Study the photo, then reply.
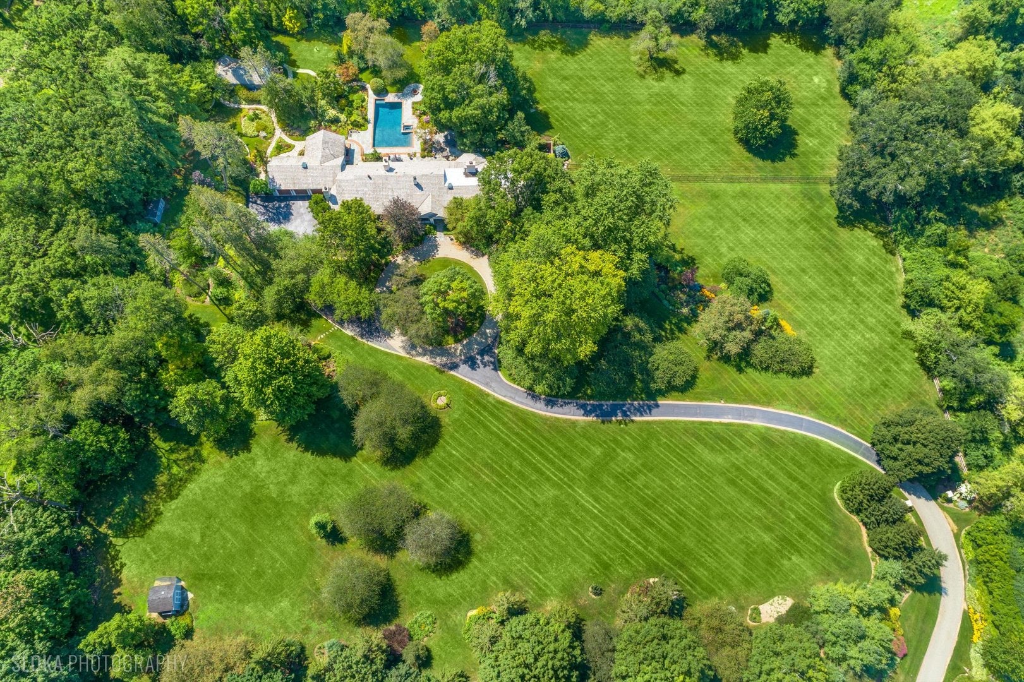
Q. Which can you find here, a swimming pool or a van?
swimming pool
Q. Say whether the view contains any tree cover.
Yes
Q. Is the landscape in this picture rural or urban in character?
rural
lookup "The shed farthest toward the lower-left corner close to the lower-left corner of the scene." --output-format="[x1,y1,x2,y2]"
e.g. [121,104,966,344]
[144,574,190,614]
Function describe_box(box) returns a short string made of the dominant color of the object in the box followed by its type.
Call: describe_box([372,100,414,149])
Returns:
blue swimming pool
